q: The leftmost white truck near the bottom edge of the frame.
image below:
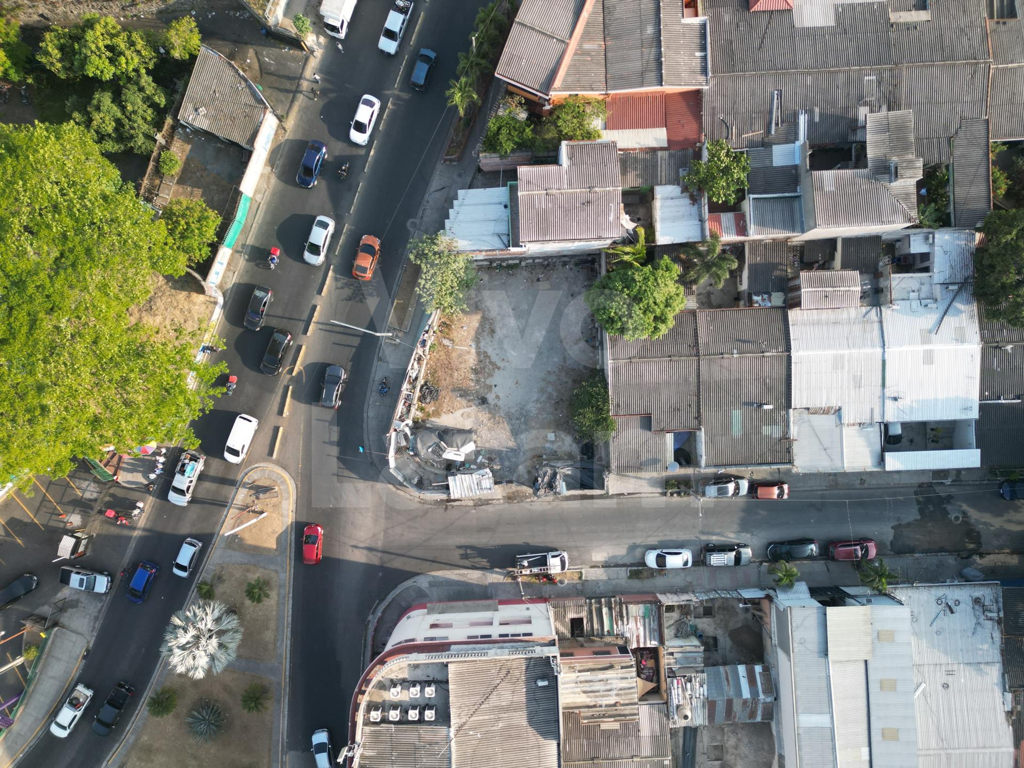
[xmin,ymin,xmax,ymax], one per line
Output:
[50,680,98,740]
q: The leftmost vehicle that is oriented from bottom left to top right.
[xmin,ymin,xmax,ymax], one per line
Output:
[0,570,43,613]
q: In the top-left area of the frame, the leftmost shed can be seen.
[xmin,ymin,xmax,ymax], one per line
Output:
[179,43,286,153]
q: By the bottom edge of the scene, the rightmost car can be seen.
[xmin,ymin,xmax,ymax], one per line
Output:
[310,727,340,768]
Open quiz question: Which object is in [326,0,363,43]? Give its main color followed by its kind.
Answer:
white truck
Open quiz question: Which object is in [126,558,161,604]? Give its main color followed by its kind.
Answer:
blue car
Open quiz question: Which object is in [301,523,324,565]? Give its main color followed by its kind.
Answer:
red car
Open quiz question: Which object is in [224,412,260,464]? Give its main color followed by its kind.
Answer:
white van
